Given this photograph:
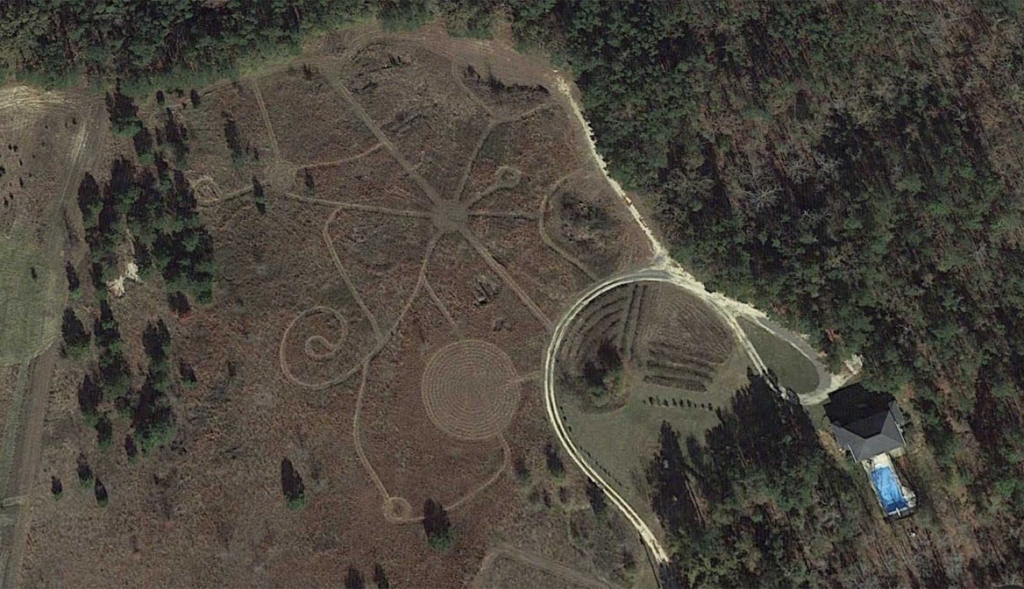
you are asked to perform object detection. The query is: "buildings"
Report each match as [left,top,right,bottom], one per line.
[830,399,909,466]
